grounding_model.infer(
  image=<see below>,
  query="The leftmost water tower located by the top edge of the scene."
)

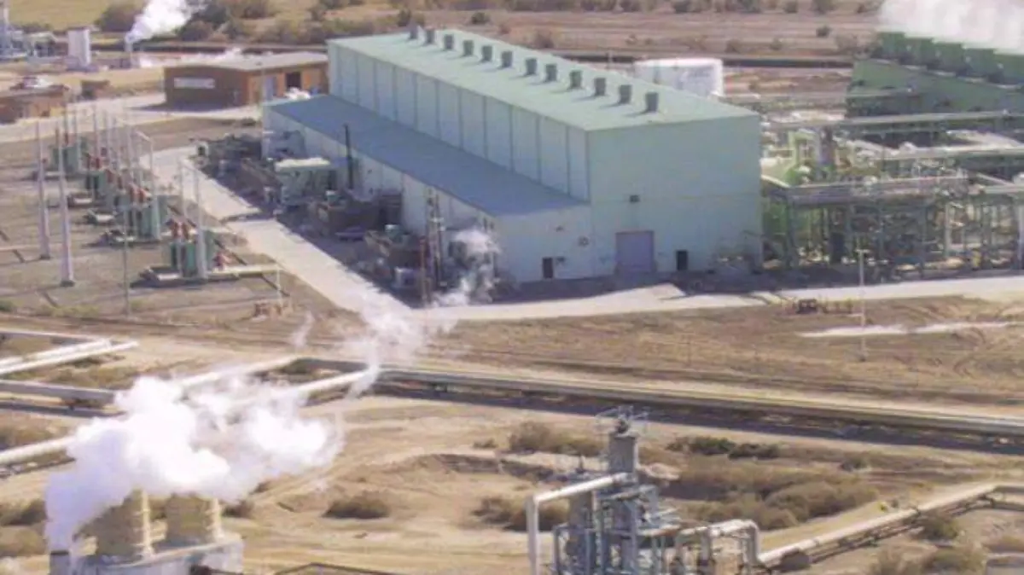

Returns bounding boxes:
[62,26,96,73]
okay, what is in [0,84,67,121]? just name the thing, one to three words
building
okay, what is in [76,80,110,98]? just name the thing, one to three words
shed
